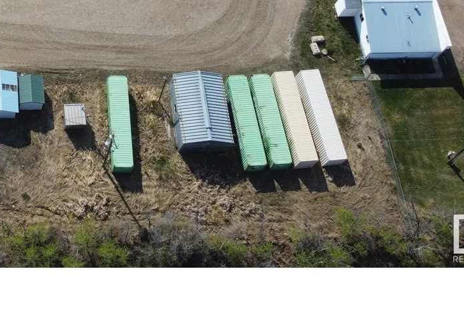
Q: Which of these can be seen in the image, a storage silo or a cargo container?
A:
cargo container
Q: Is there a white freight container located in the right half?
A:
Yes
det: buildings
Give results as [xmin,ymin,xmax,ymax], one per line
[63,102,86,131]
[20,72,44,110]
[0,68,19,118]
[168,69,237,154]
[326,0,451,64]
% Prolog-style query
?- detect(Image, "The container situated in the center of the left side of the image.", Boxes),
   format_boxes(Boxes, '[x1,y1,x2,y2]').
[106,75,134,174]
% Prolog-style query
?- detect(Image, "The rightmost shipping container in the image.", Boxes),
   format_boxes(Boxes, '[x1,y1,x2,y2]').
[297,69,347,166]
